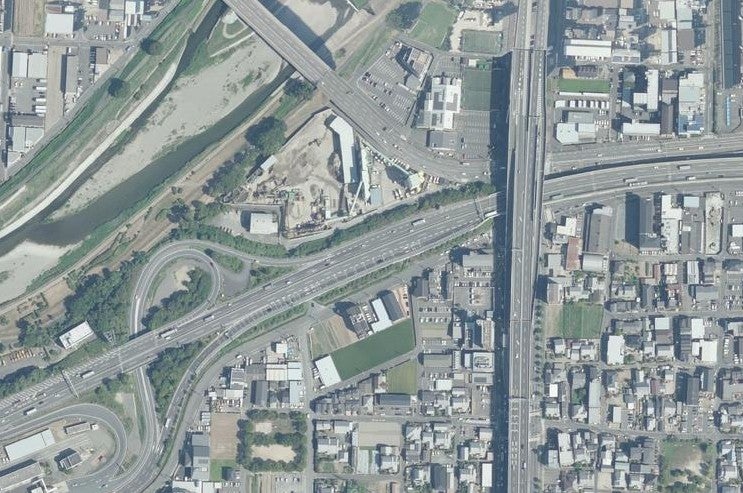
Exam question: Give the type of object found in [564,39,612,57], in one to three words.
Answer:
building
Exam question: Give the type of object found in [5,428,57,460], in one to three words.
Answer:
building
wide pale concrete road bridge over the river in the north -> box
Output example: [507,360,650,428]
[222,0,348,94]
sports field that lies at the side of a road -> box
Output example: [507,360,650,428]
[332,319,415,381]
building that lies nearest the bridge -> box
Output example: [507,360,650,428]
[330,116,353,183]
